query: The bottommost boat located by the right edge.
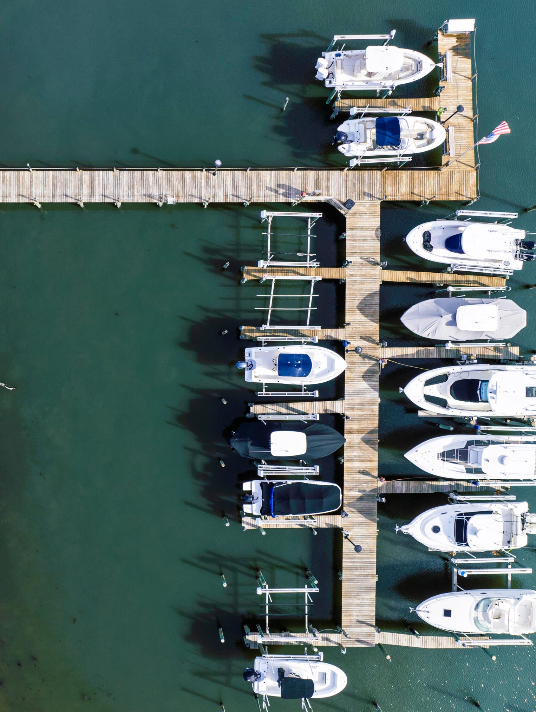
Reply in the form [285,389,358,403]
[409,588,536,636]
